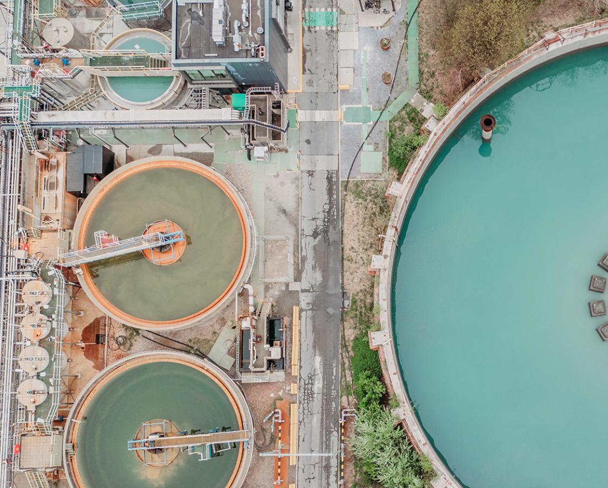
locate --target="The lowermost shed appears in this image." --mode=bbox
[67,145,118,200]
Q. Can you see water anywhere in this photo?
Yes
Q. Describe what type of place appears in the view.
industrial area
